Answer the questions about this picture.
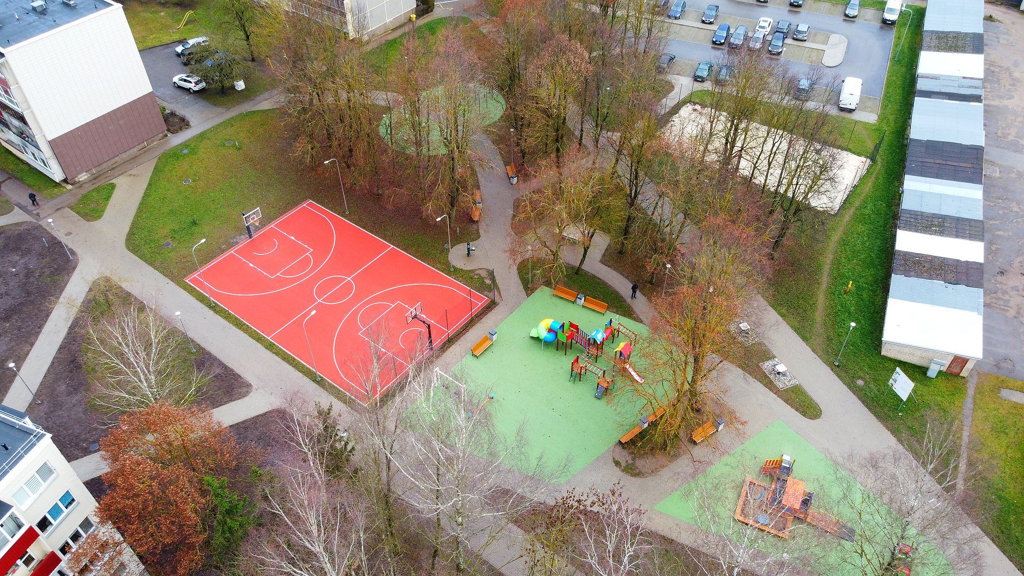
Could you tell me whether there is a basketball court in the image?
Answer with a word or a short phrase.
Yes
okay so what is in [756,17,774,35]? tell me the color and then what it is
white car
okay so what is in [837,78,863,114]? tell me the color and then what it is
white vehicle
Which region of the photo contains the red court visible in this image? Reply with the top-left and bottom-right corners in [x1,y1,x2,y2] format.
[179,196,493,409]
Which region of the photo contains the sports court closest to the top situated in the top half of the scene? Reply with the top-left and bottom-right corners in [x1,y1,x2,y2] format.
[665,103,871,213]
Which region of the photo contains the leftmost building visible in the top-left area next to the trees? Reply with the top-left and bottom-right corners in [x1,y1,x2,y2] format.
[0,0,171,187]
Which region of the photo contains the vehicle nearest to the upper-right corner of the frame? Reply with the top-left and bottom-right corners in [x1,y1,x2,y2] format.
[882,0,903,24]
